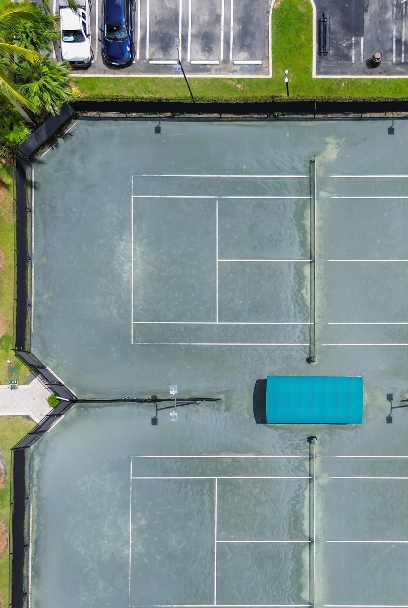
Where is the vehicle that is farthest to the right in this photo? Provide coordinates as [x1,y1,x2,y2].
[98,0,138,66]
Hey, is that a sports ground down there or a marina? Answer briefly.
sports ground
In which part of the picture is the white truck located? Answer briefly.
top left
